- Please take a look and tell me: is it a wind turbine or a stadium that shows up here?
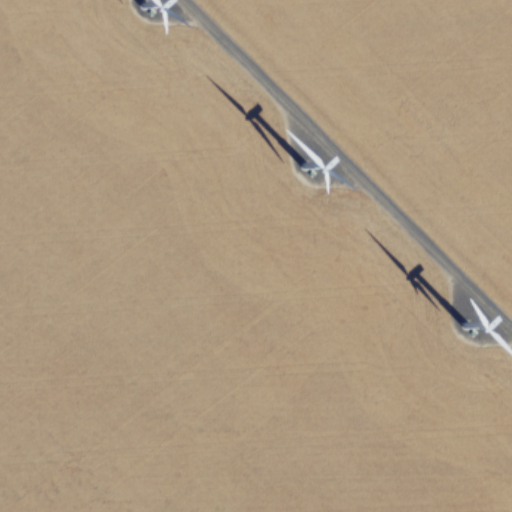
wind turbine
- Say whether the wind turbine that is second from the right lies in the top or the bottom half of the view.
top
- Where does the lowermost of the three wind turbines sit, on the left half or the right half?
right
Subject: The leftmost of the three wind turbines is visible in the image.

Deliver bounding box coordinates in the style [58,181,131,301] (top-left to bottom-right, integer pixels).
[138,0,194,32]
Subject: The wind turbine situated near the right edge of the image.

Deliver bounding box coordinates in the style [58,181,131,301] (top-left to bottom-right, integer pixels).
[460,300,512,354]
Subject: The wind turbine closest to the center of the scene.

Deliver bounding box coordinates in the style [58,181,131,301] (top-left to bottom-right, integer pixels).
[287,128,358,193]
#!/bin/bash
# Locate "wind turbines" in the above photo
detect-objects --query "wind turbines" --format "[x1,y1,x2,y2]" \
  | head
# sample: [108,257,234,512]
[138,0,194,32]
[460,300,512,354]
[287,128,358,193]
